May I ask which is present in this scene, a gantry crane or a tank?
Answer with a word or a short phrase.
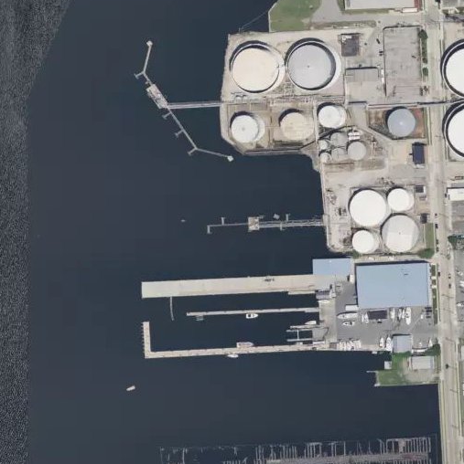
tank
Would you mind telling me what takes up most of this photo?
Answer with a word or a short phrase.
water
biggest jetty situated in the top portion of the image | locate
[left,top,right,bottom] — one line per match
[135,39,236,162]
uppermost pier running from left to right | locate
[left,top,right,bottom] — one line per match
[207,213,325,234]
